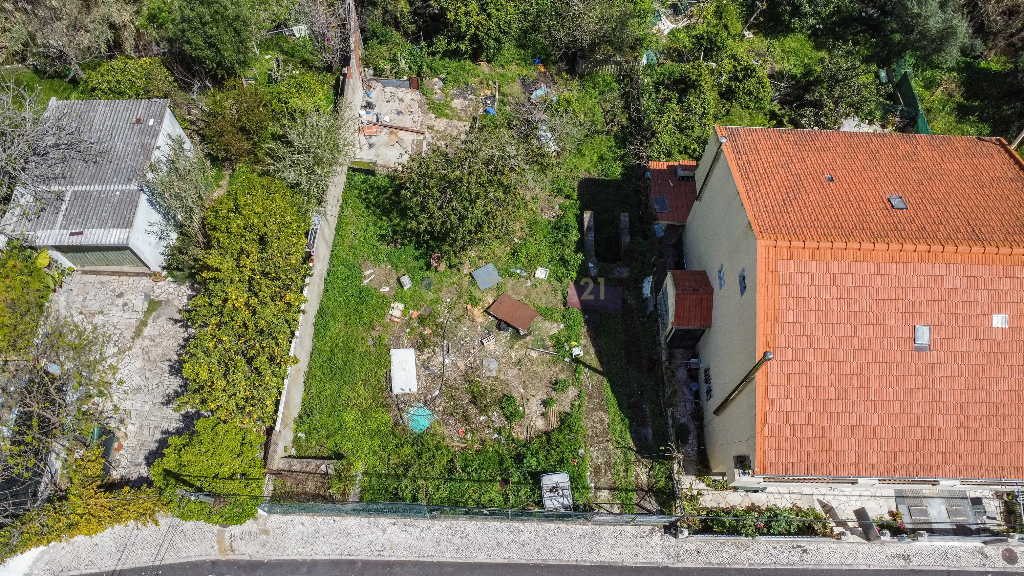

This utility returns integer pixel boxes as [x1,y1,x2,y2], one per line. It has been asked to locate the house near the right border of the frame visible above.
[685,125,1024,504]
